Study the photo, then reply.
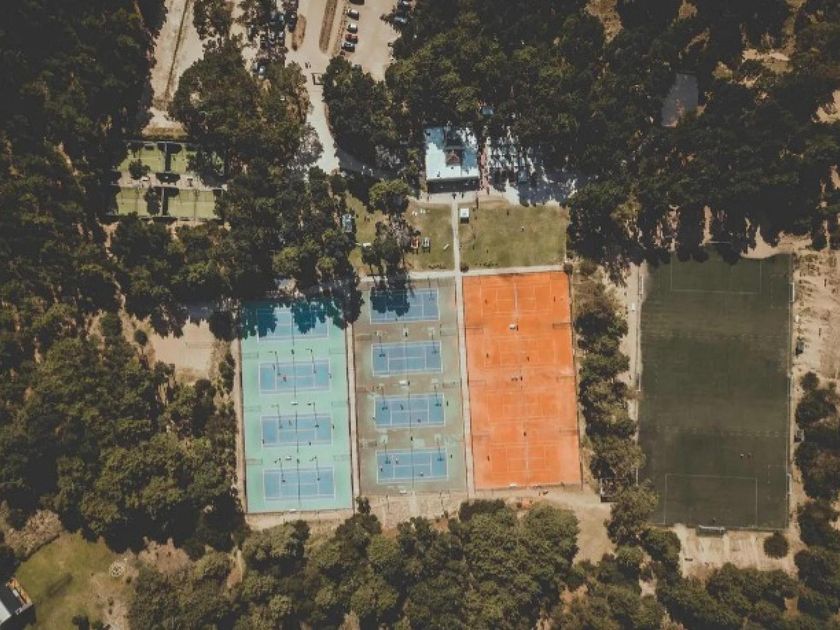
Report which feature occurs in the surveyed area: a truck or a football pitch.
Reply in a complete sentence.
I can see a football pitch in this picture.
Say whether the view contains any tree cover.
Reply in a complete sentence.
Yes, tree cover can be seen from above here.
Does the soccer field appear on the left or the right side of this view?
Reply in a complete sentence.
It is on the right.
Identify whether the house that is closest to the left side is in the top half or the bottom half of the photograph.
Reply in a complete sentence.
It is in the bottom half that the house that is closest to the left side appears.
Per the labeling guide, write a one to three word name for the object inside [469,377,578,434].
tennis court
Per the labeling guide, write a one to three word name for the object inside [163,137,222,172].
sports court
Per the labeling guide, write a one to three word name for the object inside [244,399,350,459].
tennis court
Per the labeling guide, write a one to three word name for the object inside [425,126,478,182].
building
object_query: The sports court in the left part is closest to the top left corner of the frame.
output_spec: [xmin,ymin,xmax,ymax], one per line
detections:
[107,138,167,172]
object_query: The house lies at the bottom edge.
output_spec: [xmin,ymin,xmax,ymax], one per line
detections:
[0,578,34,627]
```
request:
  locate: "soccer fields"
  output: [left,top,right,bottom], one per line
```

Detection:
[638,246,791,529]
